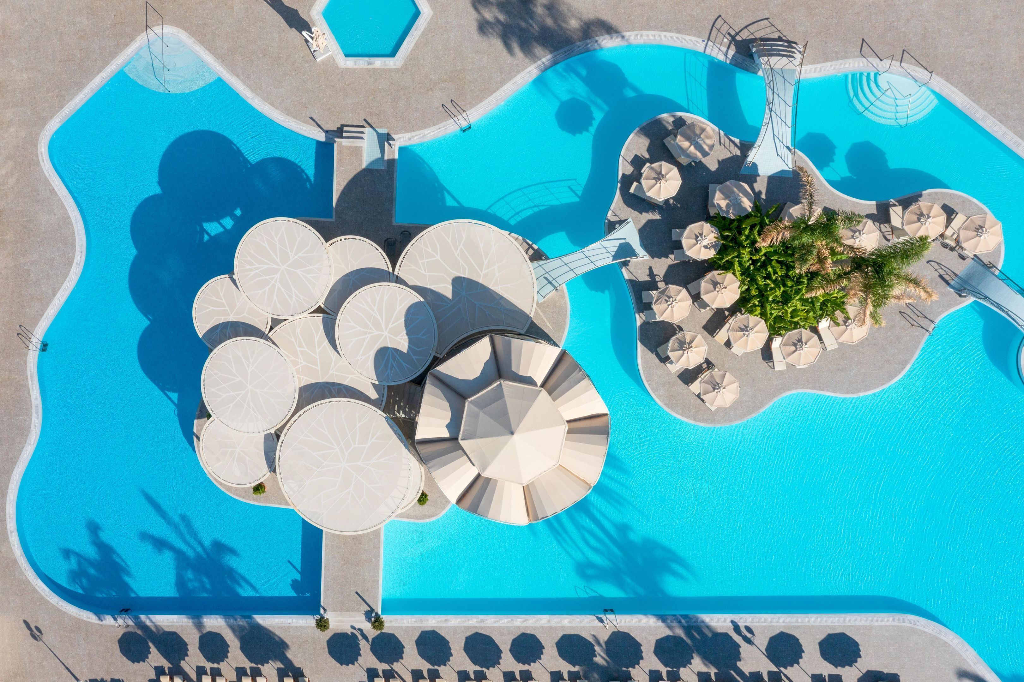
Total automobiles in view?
0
